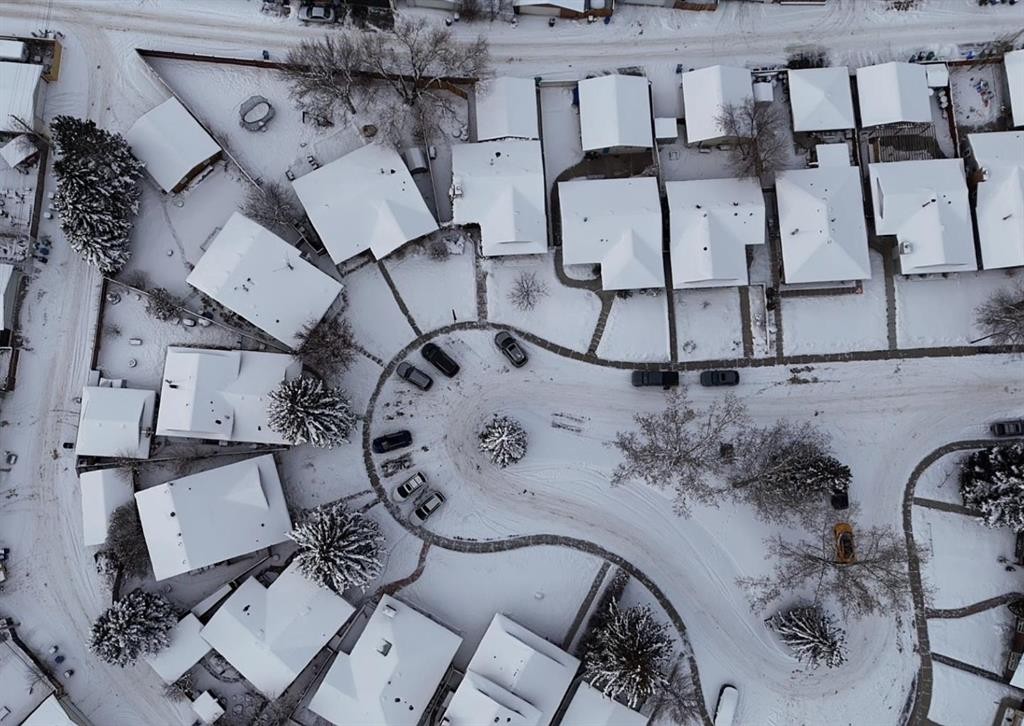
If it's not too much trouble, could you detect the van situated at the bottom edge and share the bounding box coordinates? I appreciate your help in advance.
[712,685,741,726]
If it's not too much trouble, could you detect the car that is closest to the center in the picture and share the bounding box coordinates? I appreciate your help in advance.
[495,330,528,368]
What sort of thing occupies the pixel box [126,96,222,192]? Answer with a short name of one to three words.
building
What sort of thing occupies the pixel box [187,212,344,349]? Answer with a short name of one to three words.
house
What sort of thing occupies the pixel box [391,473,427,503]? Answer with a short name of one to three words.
car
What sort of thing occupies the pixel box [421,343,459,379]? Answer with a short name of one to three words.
car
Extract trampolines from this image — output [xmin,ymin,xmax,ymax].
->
[237,94,274,130]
